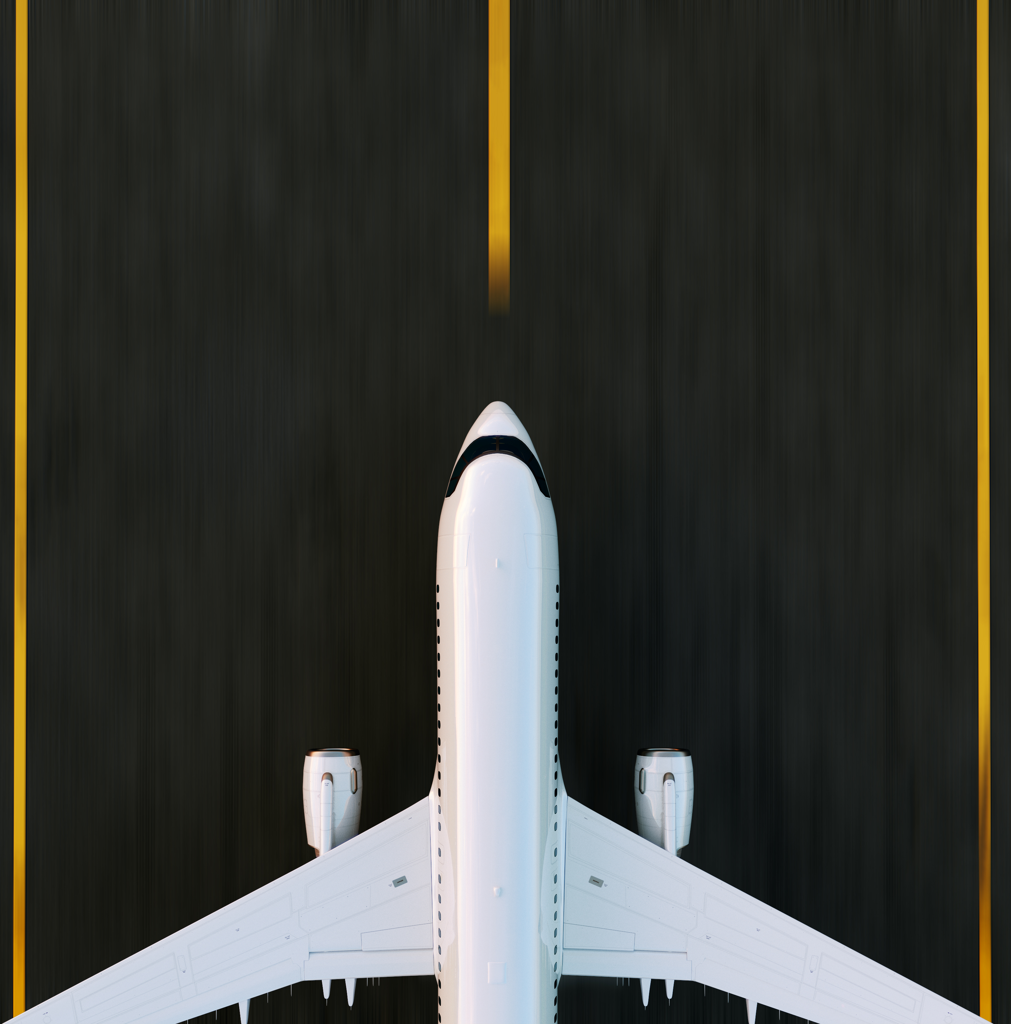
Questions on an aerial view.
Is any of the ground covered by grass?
No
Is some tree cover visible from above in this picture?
No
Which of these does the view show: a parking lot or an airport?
airport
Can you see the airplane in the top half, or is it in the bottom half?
bottom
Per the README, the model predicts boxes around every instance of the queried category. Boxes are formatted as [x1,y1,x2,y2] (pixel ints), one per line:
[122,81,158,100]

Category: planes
[1,401,994,1024]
